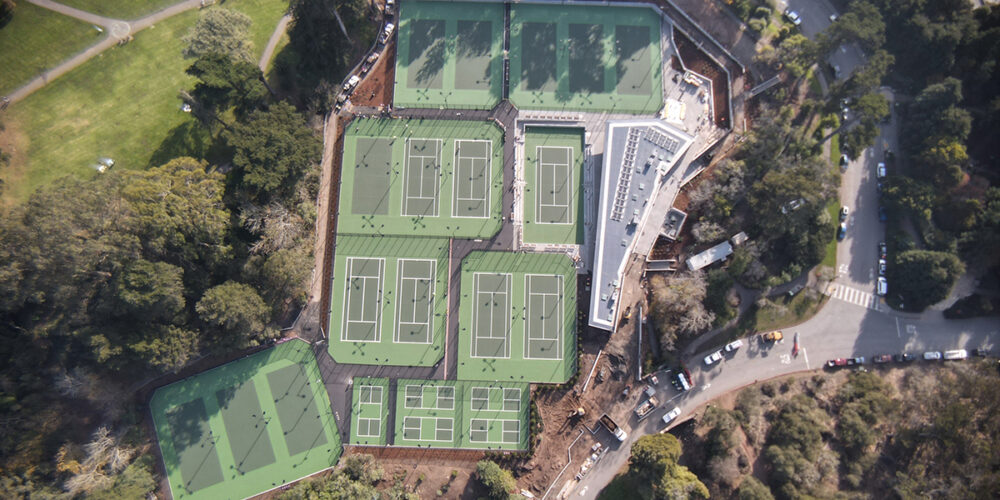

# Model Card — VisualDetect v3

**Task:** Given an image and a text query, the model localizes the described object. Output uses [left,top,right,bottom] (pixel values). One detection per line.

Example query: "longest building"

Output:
[589,120,693,332]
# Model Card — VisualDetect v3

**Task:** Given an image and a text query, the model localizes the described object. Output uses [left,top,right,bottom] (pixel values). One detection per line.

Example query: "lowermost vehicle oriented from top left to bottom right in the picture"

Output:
[598,414,626,442]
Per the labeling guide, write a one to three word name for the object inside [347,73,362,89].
vehicle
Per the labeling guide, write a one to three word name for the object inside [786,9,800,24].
vehicle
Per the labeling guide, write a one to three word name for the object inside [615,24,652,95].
tennis court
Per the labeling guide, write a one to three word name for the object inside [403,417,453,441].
sports court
